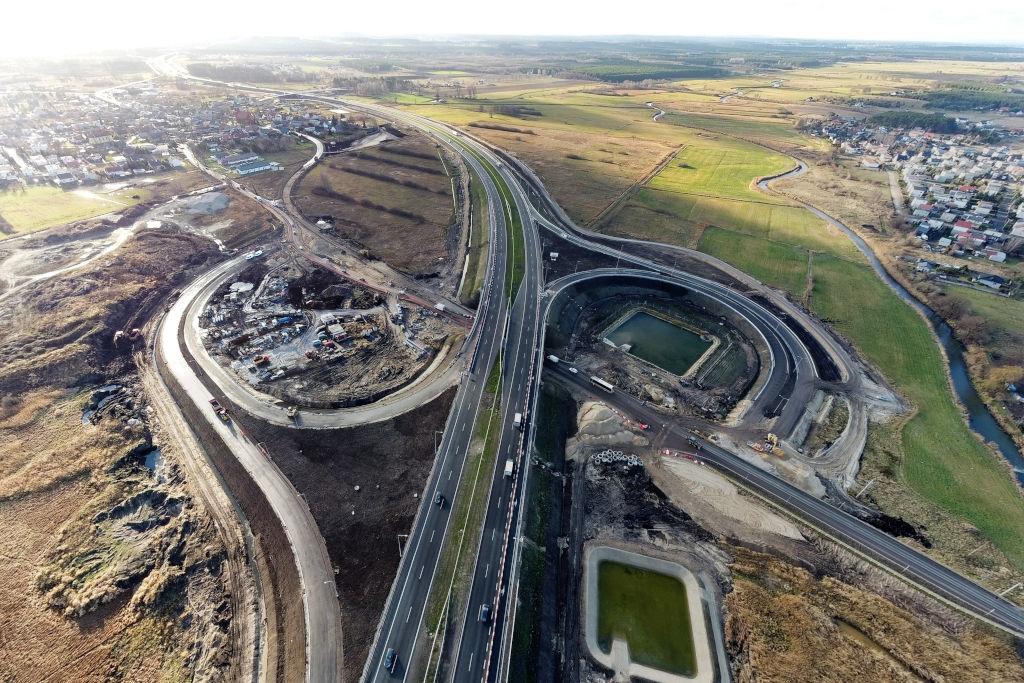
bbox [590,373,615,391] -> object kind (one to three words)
vehicle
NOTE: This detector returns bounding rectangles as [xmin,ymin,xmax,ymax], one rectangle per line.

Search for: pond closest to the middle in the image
[609,314,708,374]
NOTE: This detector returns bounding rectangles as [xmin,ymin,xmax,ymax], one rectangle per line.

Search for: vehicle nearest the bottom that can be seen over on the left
[383,648,395,671]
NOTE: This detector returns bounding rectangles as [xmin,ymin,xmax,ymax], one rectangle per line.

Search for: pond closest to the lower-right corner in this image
[598,560,697,677]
